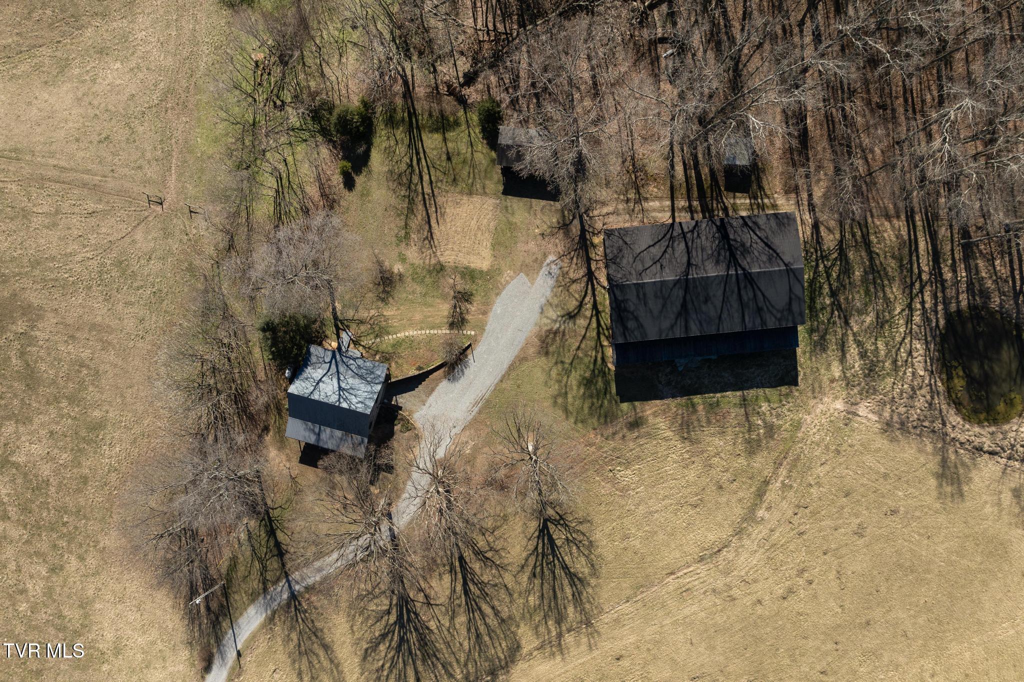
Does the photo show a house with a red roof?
No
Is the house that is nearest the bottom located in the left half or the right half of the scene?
left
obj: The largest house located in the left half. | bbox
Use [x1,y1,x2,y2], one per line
[286,347,387,457]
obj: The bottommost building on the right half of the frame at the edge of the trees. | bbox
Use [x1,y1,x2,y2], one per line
[599,211,809,365]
